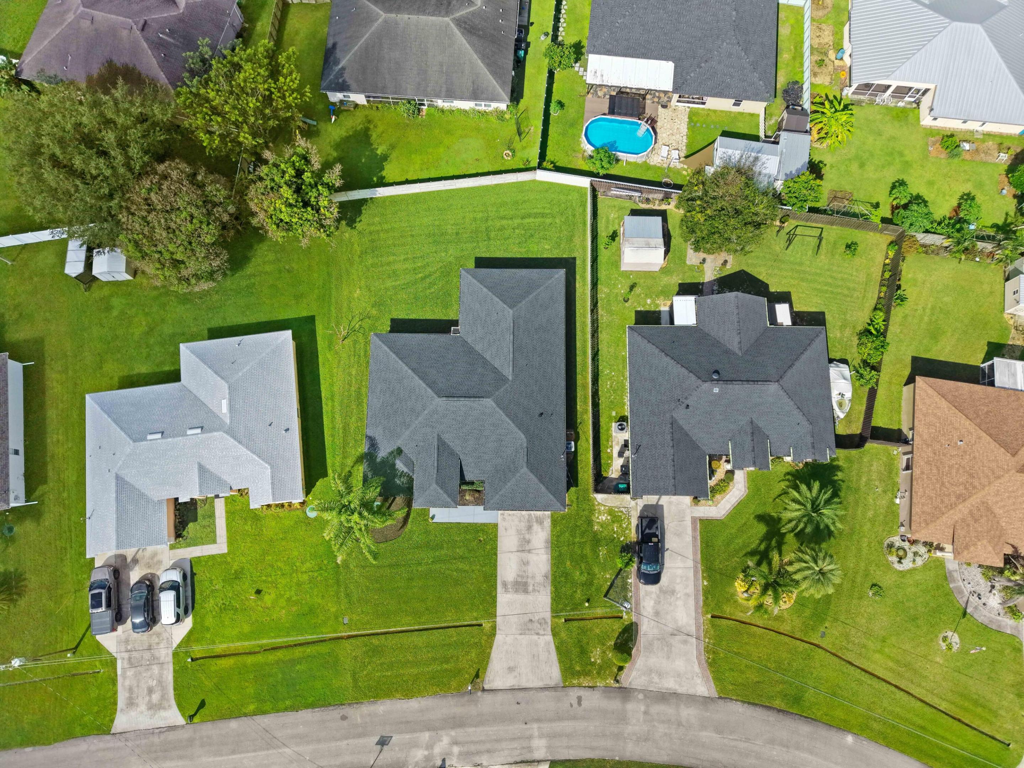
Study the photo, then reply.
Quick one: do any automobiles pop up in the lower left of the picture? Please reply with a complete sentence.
Yes, looking in the lower left of the picture, one can make out an automobile.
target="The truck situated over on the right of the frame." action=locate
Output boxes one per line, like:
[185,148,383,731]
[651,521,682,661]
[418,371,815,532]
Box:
[635,516,664,584]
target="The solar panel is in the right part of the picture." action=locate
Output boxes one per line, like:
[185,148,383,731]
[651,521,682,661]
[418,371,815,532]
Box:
[608,96,640,118]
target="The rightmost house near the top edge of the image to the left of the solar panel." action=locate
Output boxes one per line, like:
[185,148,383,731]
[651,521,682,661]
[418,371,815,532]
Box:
[319,0,518,111]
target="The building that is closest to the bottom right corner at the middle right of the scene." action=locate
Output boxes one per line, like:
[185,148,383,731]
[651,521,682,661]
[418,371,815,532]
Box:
[900,357,1024,568]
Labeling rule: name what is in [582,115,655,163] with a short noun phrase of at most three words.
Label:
swimming pool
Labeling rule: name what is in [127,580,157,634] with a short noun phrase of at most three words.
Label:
car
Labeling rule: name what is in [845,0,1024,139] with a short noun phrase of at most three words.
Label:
house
